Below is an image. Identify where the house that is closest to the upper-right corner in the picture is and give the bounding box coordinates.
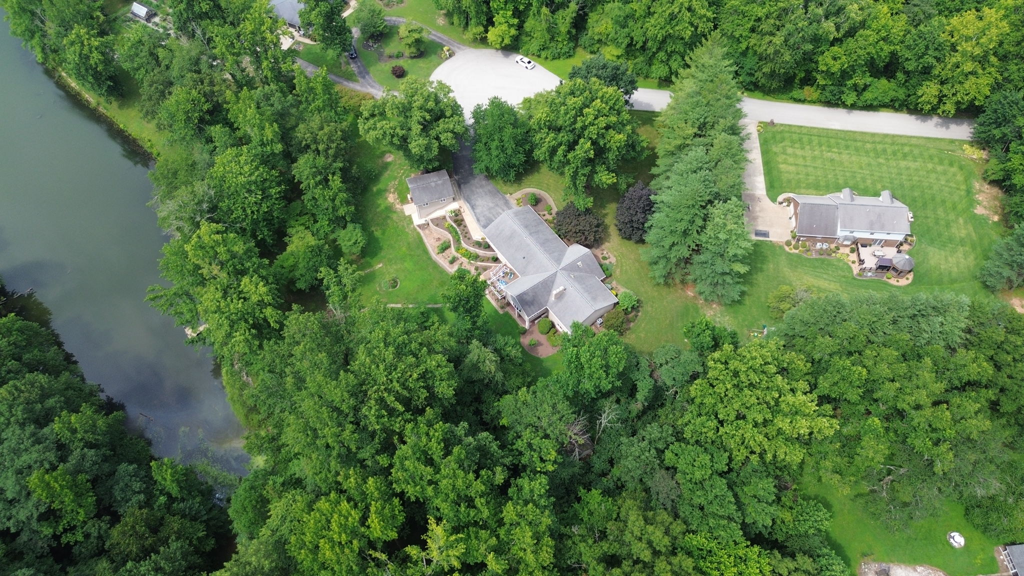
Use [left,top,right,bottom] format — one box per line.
[786,185,917,252]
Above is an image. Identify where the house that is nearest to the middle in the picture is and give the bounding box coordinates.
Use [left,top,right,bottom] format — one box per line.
[482,206,619,339]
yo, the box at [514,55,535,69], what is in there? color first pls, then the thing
white car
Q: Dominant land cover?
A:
trees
